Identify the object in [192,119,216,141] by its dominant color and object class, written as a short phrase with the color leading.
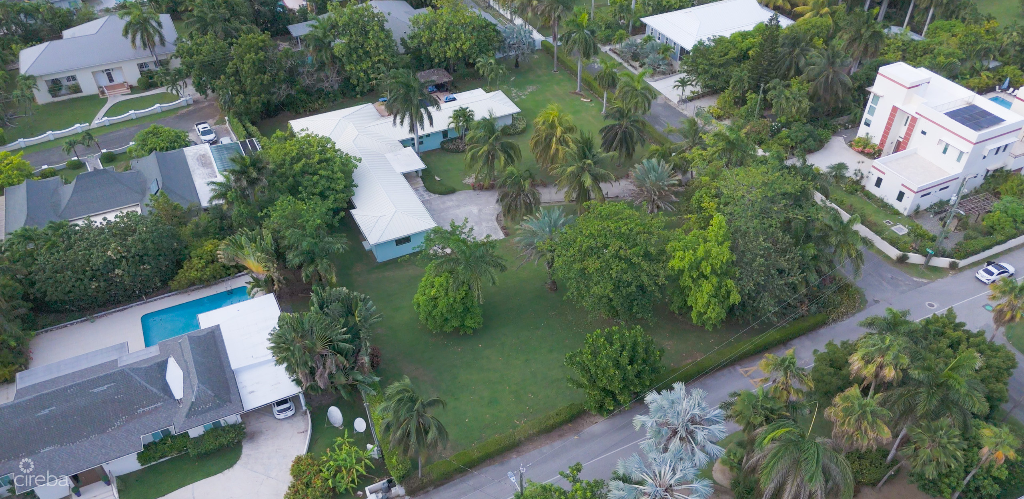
white truck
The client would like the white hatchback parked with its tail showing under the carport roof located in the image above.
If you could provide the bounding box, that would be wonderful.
[273,398,297,427]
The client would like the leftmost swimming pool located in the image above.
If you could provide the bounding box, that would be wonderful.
[0,275,262,396]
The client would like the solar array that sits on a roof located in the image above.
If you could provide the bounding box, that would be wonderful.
[939,103,1012,132]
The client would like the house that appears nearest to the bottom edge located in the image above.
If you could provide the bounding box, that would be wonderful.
[0,293,307,499]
